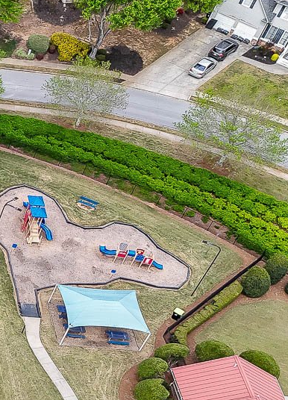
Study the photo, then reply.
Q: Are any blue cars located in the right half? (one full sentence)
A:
No, there's no blue car to be seen in the right half.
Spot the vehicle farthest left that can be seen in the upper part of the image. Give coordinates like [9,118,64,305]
[189,58,216,78]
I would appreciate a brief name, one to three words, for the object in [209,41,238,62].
car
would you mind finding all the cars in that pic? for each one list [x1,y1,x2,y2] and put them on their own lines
[209,41,238,62]
[189,58,216,78]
